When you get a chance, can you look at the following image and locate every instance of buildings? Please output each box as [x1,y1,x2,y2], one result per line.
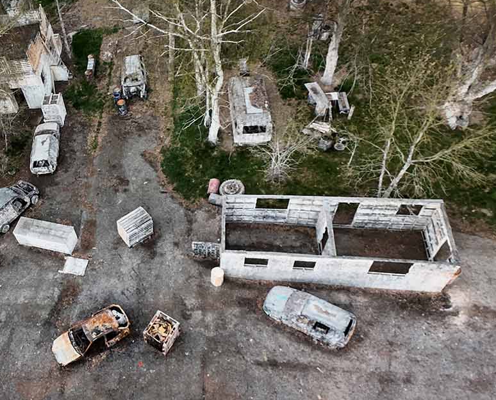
[0,6,73,109]
[221,195,462,292]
